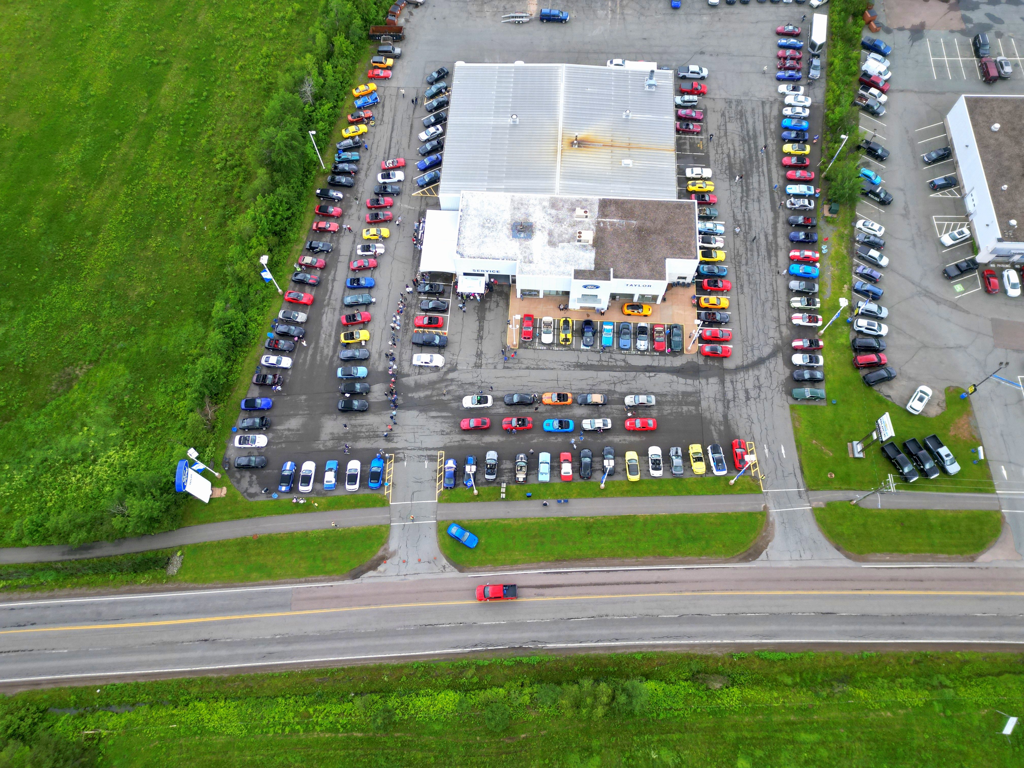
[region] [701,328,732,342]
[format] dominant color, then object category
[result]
red car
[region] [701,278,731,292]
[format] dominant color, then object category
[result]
red car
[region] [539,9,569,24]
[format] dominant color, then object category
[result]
blue vehicle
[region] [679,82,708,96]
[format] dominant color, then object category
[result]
red vehicle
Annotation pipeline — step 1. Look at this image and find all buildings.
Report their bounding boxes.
[943,94,1024,267]
[438,58,701,313]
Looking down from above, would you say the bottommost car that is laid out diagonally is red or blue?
blue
